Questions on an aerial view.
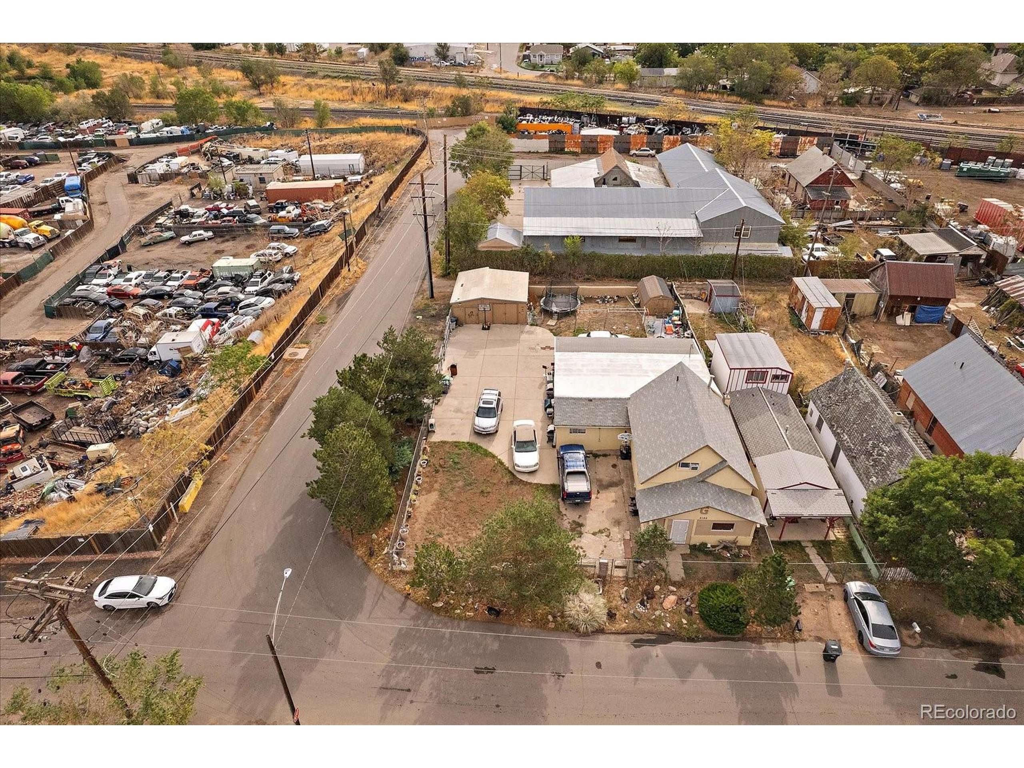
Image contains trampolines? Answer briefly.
Yes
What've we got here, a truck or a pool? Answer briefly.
truck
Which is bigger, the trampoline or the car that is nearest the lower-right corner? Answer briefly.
the car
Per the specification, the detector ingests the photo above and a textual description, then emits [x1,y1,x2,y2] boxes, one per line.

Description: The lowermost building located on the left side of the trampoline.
[450,270,530,325]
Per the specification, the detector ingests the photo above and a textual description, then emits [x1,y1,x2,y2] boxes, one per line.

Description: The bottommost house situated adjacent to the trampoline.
[552,338,767,546]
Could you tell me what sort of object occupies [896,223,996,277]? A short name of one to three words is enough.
shed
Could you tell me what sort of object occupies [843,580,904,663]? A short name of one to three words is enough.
car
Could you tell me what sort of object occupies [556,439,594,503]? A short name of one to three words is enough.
truck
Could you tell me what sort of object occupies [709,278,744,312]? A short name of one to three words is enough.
shed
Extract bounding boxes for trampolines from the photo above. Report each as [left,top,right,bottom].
[540,275,581,322]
